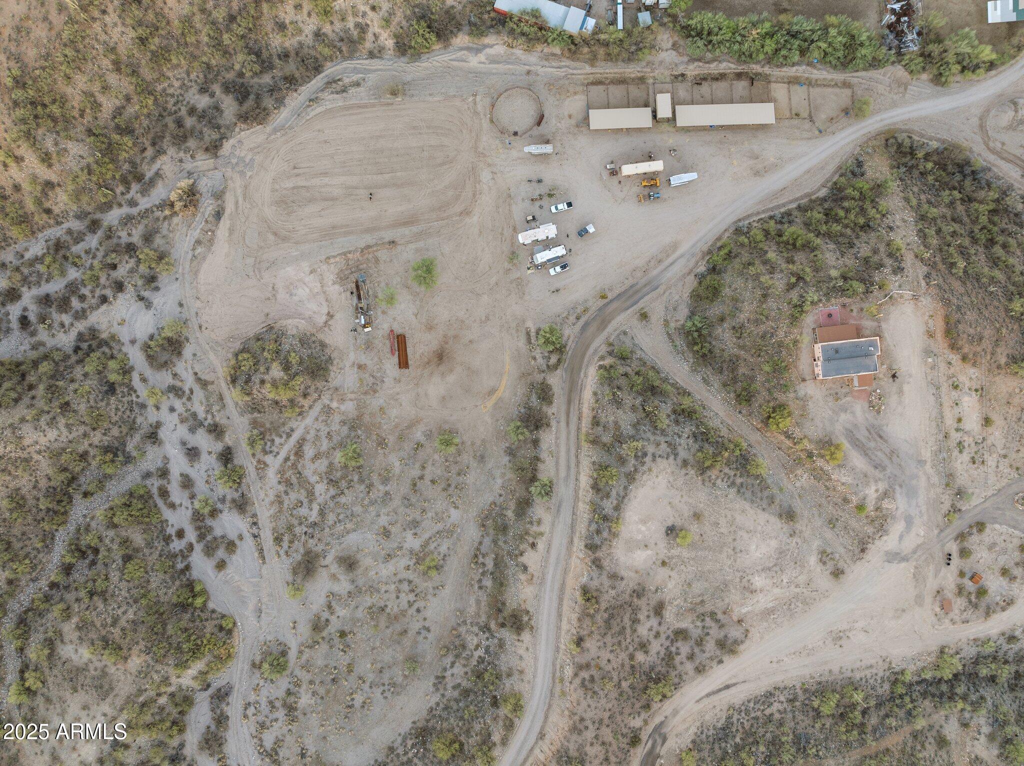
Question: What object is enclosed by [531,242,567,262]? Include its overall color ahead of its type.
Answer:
white camper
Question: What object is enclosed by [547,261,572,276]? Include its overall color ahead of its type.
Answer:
white vehicle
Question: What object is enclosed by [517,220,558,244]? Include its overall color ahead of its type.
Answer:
white camper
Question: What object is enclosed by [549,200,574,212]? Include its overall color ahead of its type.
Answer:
white vehicle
